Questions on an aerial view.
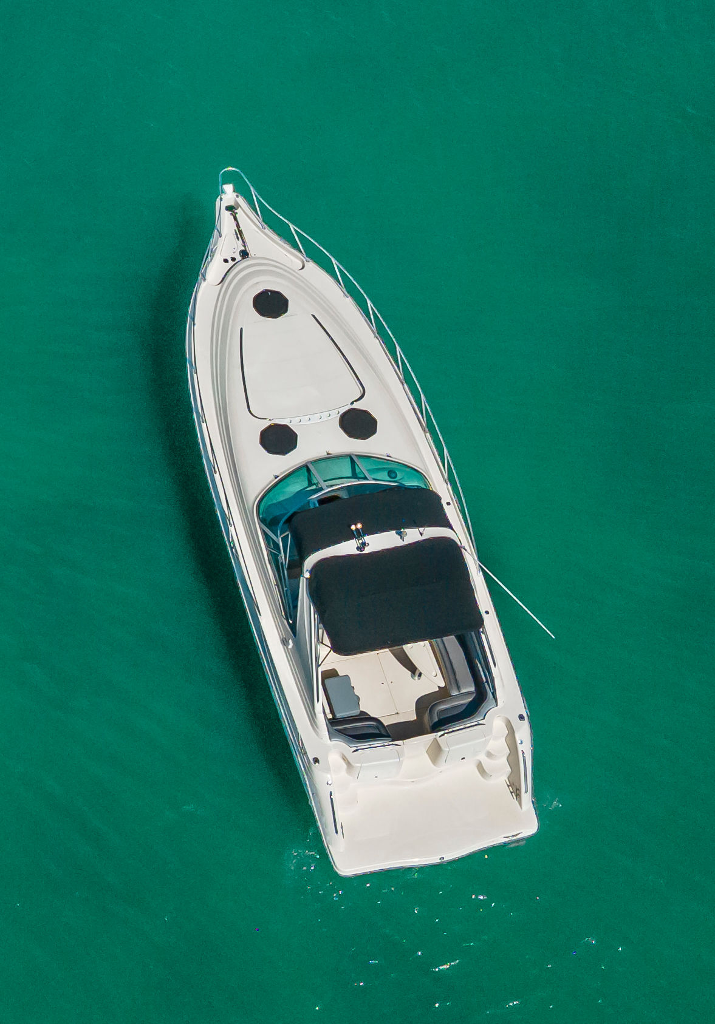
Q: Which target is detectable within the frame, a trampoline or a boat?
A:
boat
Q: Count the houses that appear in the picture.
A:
none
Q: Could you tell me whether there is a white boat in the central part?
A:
Yes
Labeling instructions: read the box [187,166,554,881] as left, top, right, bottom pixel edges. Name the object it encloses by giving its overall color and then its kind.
white boat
